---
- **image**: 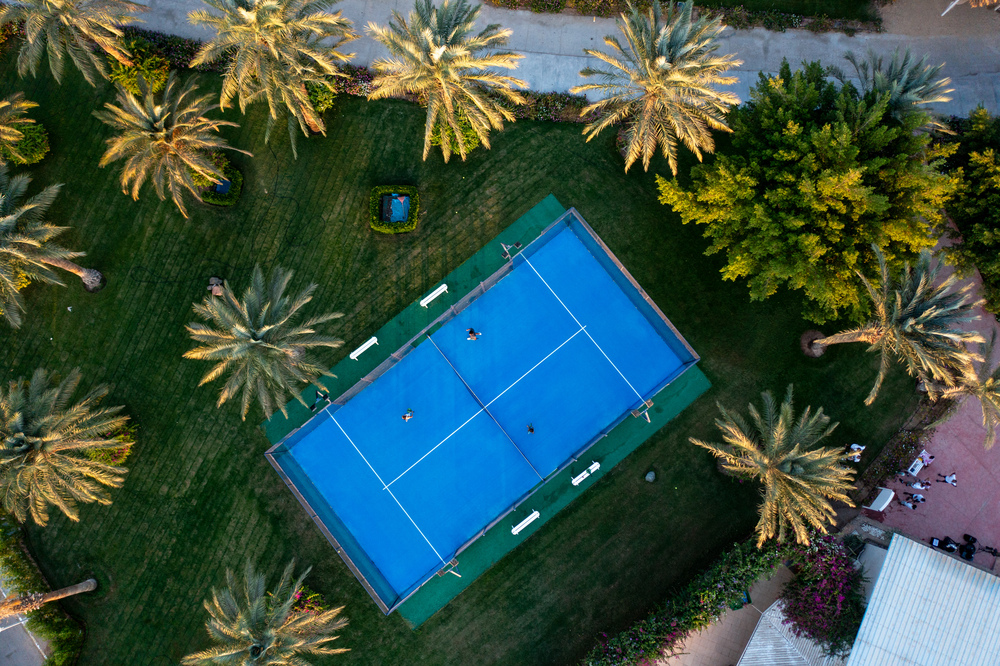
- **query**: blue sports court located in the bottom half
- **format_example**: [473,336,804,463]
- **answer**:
[262,194,715,632]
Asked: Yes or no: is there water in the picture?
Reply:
No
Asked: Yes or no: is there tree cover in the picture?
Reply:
Yes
